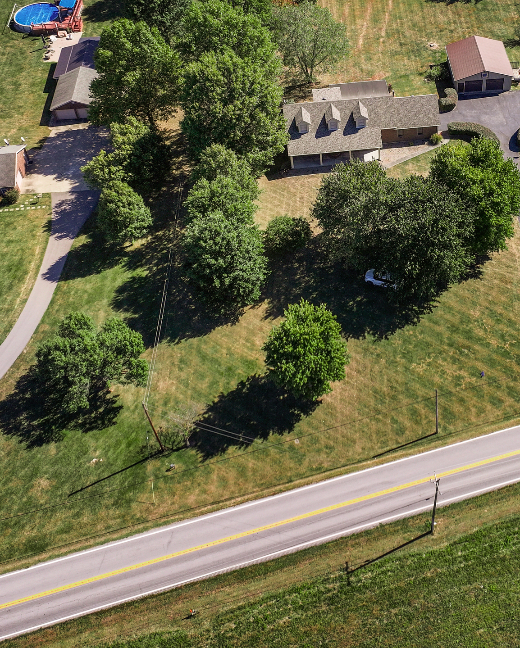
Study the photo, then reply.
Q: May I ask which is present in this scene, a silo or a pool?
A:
pool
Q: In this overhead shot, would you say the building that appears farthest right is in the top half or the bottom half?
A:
top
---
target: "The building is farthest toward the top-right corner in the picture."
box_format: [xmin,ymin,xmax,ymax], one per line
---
[445,35,515,96]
